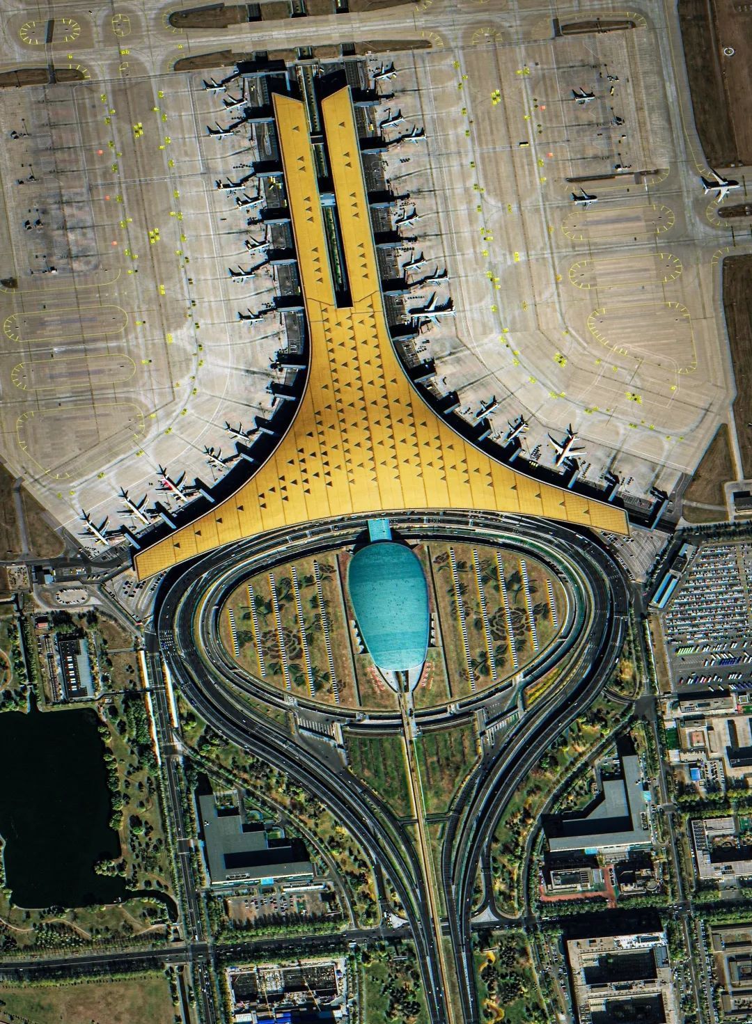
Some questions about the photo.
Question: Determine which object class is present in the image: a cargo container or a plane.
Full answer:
The image shows a plane.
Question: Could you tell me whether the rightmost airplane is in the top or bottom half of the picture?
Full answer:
It is in the top half that the rightmost airplane appears.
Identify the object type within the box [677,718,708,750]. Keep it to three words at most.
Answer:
building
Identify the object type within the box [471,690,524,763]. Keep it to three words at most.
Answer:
toll station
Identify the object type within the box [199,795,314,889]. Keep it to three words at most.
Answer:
building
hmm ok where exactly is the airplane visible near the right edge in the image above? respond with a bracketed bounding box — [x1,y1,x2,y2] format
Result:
[704,170,739,204]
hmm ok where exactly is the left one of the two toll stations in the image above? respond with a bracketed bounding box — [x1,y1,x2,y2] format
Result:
[289,713,344,774]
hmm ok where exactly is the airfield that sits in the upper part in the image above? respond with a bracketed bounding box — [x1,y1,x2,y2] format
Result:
[0,0,752,566]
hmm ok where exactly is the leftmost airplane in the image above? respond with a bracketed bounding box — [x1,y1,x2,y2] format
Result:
[78,515,109,546]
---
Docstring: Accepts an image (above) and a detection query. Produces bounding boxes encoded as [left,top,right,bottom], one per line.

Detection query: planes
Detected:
[227,423,250,443]
[396,208,419,230]
[157,470,188,502]
[551,432,586,468]
[209,123,233,145]
[380,110,405,131]
[232,266,255,288]
[427,266,450,289]
[404,253,427,273]
[405,127,427,148]
[410,290,457,333]
[119,494,150,525]
[574,89,596,109]
[206,80,226,98]
[704,170,739,204]
[574,189,597,211]
[505,417,530,440]
[246,237,269,259]
[204,447,227,467]
[477,397,501,419]
[78,515,109,546]
[218,175,245,201]
[224,95,247,116]
[236,192,265,217]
